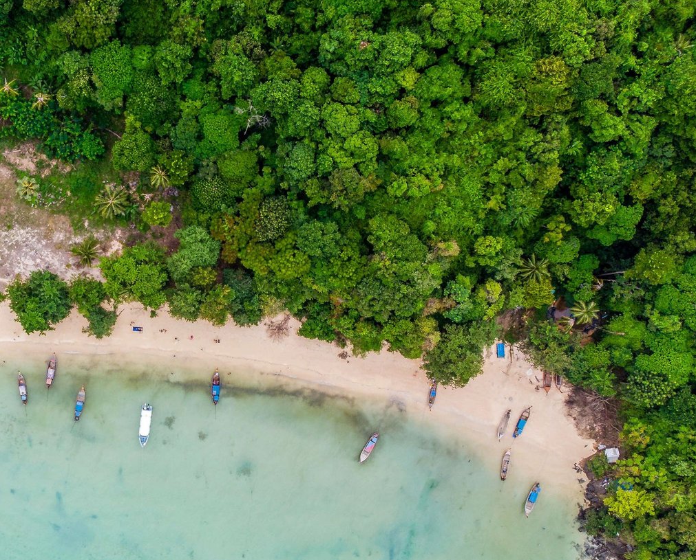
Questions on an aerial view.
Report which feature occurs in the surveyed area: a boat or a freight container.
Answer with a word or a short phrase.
boat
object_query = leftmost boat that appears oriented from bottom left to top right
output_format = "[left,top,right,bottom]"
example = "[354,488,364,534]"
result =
[360,432,380,464]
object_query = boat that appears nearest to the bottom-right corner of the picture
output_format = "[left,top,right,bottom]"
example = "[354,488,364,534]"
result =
[526,482,541,519]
